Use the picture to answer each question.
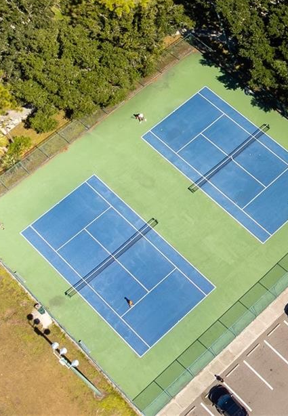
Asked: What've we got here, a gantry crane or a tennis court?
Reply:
tennis court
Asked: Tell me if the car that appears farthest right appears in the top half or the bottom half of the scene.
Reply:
bottom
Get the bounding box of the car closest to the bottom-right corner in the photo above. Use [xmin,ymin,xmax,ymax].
[211,384,250,416]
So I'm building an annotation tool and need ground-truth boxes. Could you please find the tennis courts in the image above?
[0,130,280,416]
[91,49,288,302]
